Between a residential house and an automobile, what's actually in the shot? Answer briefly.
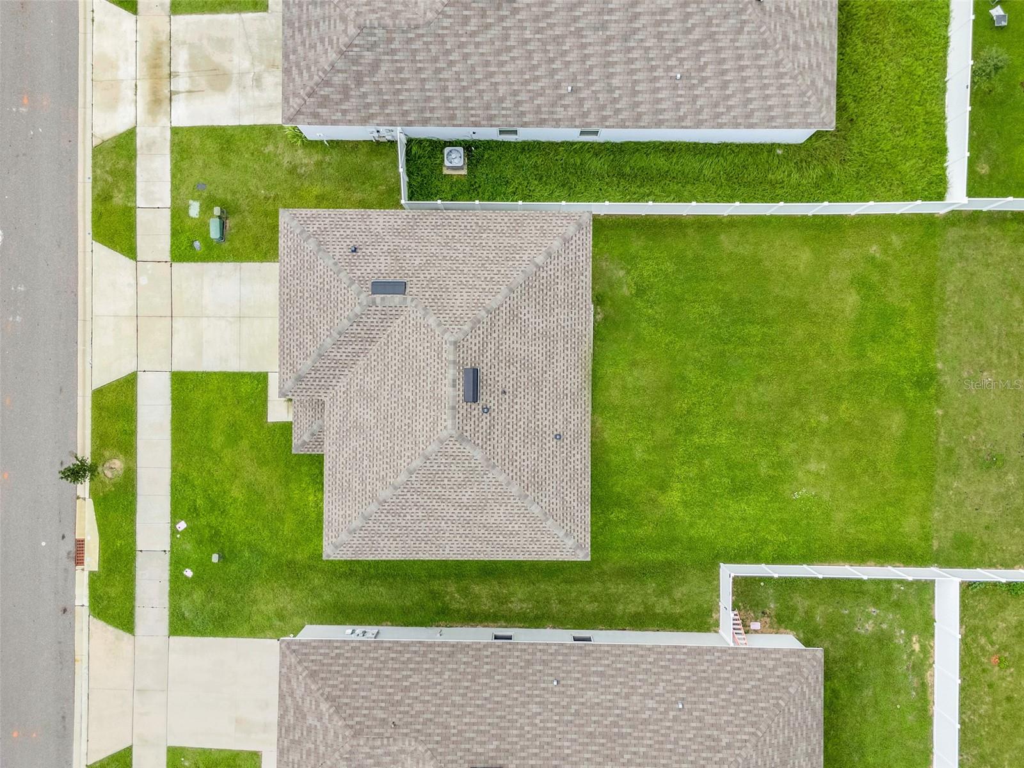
residential house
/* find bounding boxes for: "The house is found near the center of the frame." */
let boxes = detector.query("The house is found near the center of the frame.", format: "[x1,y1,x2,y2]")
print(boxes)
[279,209,593,561]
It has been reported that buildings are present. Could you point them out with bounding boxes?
[277,625,824,768]
[279,209,593,561]
[282,0,838,143]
